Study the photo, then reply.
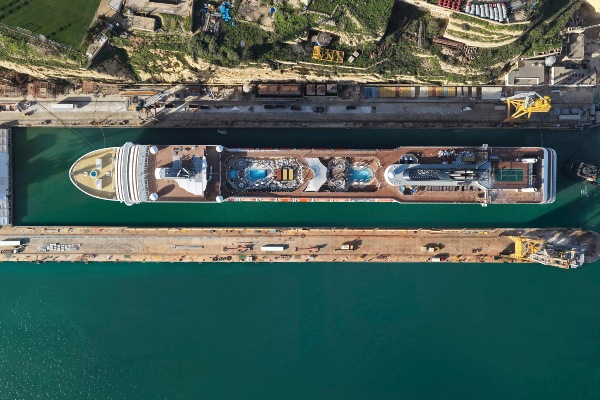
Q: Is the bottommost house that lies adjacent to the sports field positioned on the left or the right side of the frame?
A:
left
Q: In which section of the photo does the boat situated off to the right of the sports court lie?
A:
right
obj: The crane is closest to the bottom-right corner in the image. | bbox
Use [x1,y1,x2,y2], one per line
[507,235,586,269]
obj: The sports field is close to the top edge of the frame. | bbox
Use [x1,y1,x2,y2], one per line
[0,0,97,49]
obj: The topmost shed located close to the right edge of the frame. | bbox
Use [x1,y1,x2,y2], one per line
[564,34,585,61]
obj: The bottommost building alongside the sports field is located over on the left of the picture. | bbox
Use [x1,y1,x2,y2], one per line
[86,39,107,75]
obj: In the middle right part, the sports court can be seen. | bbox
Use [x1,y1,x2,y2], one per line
[493,162,531,188]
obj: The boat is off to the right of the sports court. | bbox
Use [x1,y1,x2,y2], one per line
[562,158,600,186]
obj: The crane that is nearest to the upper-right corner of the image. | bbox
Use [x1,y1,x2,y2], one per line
[479,90,553,122]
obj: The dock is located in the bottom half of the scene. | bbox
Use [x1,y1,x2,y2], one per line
[0,229,596,263]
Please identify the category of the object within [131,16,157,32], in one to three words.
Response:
house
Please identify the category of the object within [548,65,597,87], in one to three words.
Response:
building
